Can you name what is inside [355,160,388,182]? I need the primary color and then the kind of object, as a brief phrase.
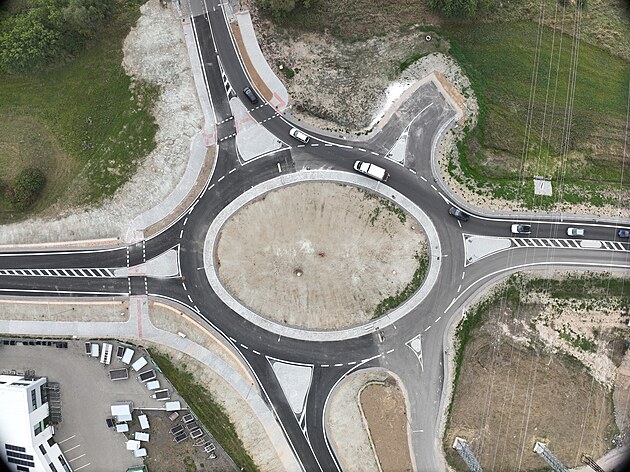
white truck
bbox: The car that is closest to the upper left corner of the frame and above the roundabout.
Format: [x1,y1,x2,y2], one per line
[243,86,258,105]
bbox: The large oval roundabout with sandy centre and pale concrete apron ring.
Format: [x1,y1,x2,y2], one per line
[180,144,463,367]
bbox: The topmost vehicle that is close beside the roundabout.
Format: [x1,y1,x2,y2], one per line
[289,128,310,144]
